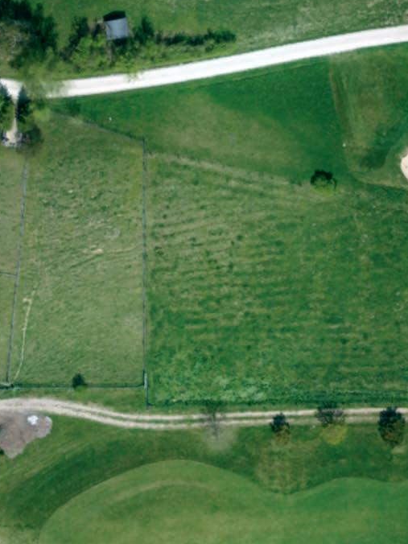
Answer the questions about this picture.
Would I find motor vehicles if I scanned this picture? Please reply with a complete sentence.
No, there is no motor vehicle in the image.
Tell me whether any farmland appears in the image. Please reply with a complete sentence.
Yes, there is farmland in the image.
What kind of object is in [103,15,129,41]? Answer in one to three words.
shed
